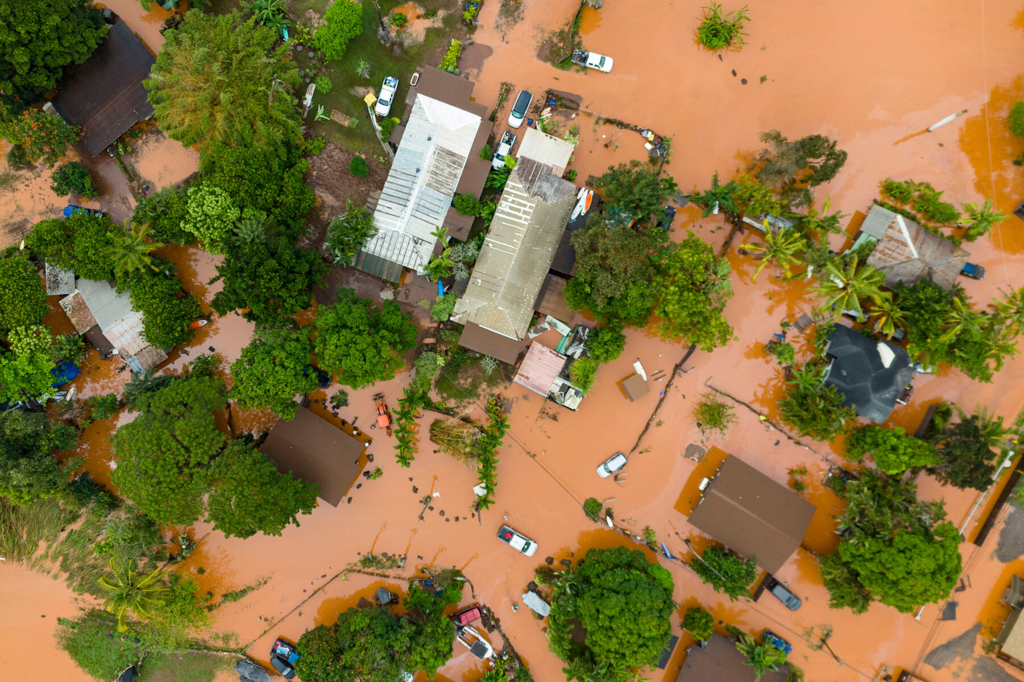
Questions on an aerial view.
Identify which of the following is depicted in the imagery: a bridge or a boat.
boat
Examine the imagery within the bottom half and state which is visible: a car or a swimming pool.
car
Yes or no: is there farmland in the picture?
No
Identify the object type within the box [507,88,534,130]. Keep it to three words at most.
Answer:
vehicle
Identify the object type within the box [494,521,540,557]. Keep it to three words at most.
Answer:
truck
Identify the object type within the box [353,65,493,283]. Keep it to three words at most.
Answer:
house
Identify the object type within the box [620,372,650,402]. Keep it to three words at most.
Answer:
shed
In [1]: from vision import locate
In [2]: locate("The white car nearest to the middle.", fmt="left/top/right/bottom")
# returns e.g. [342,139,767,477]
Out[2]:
[593,448,630,478]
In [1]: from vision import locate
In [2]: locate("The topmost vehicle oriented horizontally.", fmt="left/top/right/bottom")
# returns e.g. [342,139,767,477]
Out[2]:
[569,49,613,75]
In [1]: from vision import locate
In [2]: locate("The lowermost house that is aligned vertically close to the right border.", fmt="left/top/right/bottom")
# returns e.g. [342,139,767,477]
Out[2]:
[988,575,1024,663]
